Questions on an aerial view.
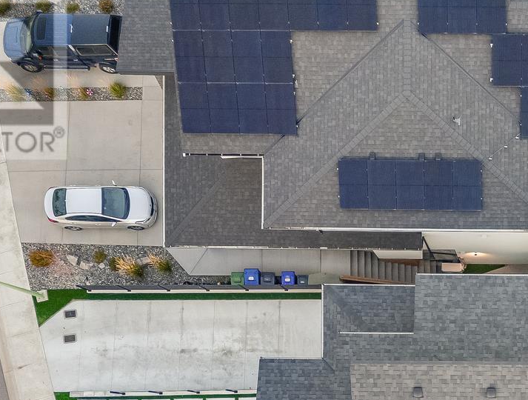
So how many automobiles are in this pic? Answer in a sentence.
The count of automobiles comes to 2.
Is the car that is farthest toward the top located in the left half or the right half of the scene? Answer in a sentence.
It is on the left.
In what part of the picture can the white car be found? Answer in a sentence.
You can find the white car in the left area of the picture.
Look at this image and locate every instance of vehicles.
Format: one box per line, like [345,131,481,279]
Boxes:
[3,9,122,76]
[45,173,159,231]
